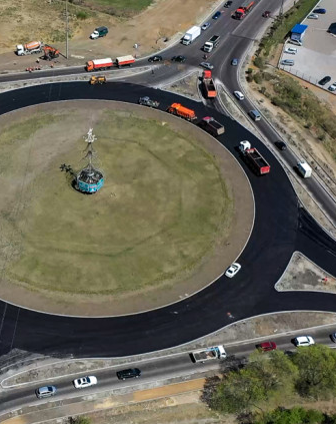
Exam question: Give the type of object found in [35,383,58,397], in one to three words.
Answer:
vehicle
